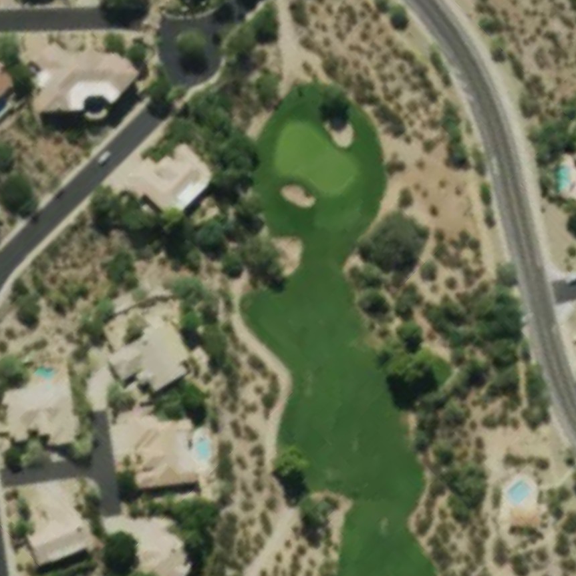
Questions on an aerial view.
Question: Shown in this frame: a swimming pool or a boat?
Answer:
swimming pool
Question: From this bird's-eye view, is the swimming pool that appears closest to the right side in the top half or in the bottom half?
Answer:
top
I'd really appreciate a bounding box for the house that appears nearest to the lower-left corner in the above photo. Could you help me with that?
[26,481,95,563]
